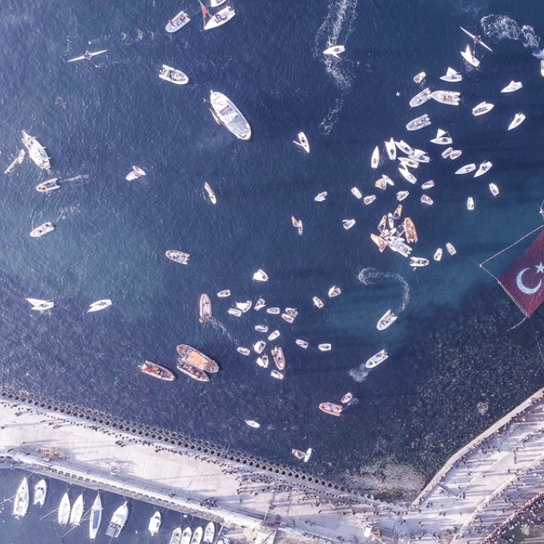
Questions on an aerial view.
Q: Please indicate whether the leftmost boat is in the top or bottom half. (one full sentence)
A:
The leftmost boat is in the bottom half of the image.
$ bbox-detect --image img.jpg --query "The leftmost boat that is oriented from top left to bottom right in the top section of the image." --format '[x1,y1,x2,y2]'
[23,133,55,172]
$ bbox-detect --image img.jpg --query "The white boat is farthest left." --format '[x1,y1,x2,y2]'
[0,477,31,518]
